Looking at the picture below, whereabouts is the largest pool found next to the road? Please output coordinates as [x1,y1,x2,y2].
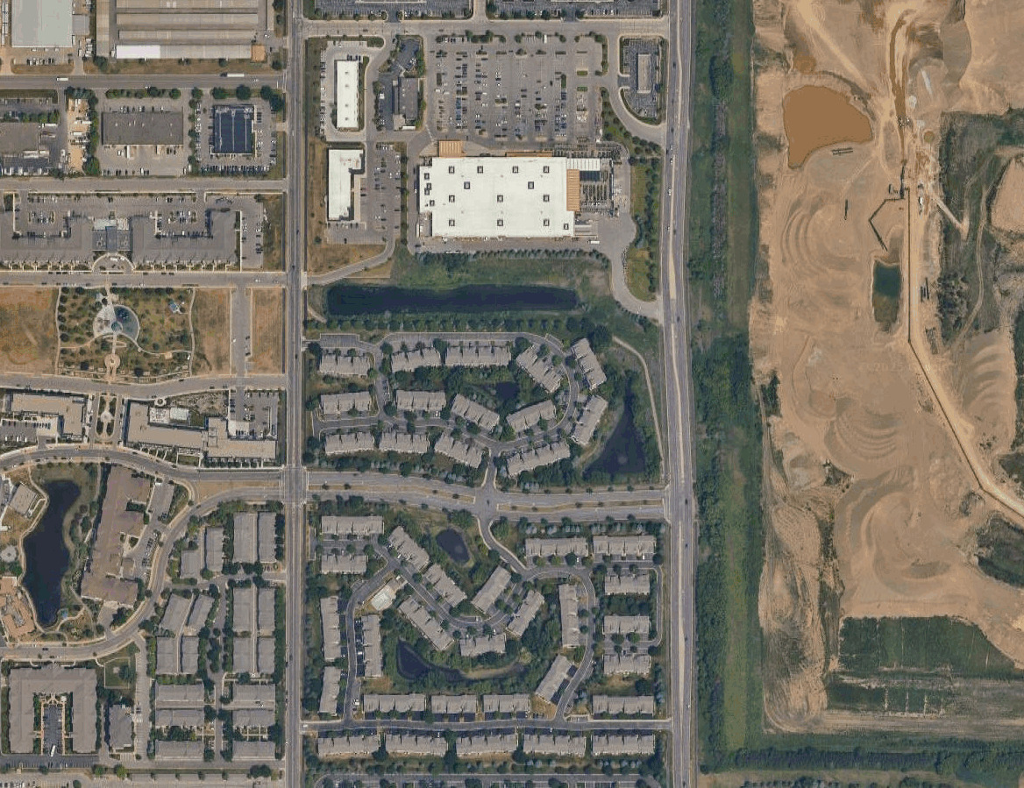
[363,582,397,615]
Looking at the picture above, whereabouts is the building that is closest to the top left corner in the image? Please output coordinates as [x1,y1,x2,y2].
[10,0,72,50]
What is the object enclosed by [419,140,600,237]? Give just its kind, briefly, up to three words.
building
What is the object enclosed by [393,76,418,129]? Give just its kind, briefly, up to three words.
building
